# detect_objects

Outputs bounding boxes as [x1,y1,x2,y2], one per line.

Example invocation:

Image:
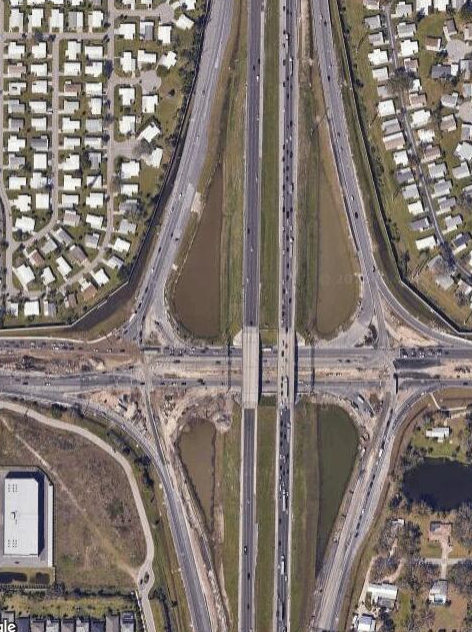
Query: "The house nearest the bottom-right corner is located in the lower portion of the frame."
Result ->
[429,580,448,604]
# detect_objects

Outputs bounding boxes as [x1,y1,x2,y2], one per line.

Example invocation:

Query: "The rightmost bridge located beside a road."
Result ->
[276,326,295,409]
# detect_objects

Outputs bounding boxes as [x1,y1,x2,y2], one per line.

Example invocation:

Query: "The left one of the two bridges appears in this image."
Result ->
[241,326,259,409]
